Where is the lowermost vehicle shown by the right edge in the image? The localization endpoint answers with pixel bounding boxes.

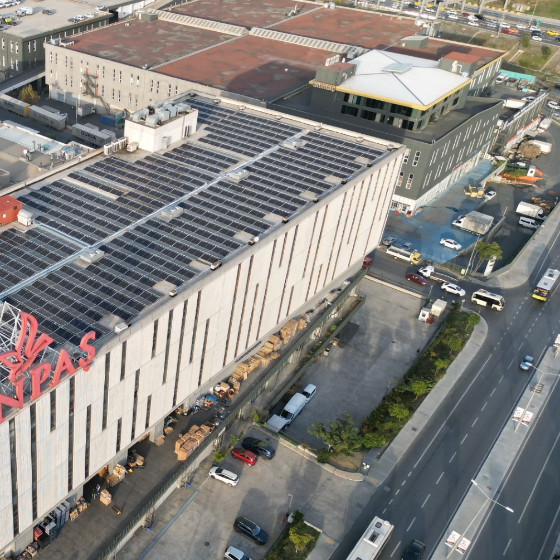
[518,350,537,370]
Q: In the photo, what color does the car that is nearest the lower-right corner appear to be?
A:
black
